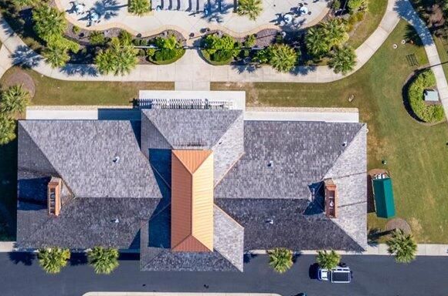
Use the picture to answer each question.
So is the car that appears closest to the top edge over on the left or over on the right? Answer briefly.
right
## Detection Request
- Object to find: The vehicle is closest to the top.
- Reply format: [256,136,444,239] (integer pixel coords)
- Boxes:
[318,265,353,284]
